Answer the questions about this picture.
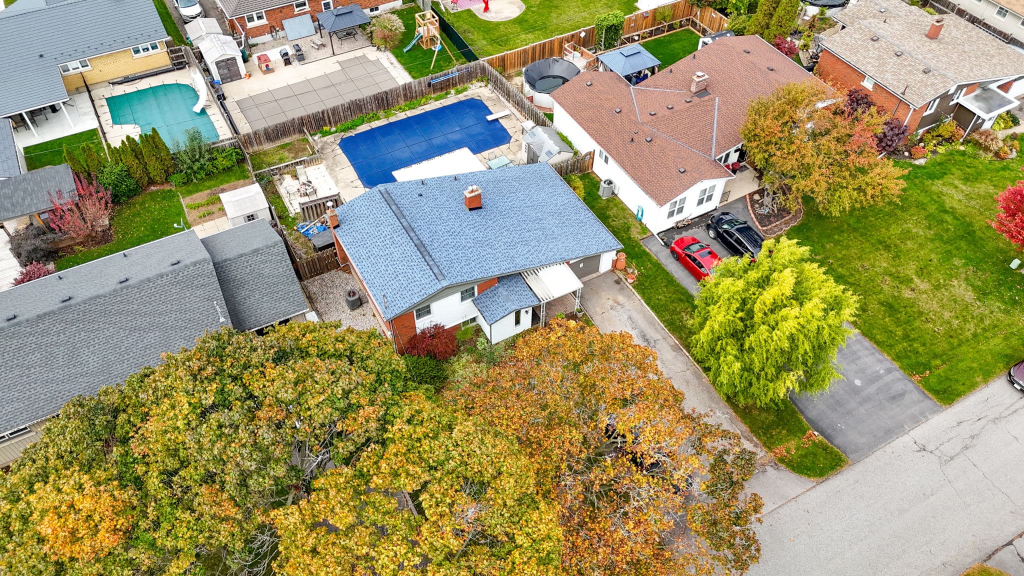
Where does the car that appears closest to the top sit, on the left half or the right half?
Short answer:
left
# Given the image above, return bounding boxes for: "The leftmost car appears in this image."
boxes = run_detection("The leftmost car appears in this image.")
[172,0,206,24]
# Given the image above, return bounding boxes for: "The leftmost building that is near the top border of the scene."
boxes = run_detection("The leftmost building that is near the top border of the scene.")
[0,0,175,138]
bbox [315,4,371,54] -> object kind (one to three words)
gazebo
